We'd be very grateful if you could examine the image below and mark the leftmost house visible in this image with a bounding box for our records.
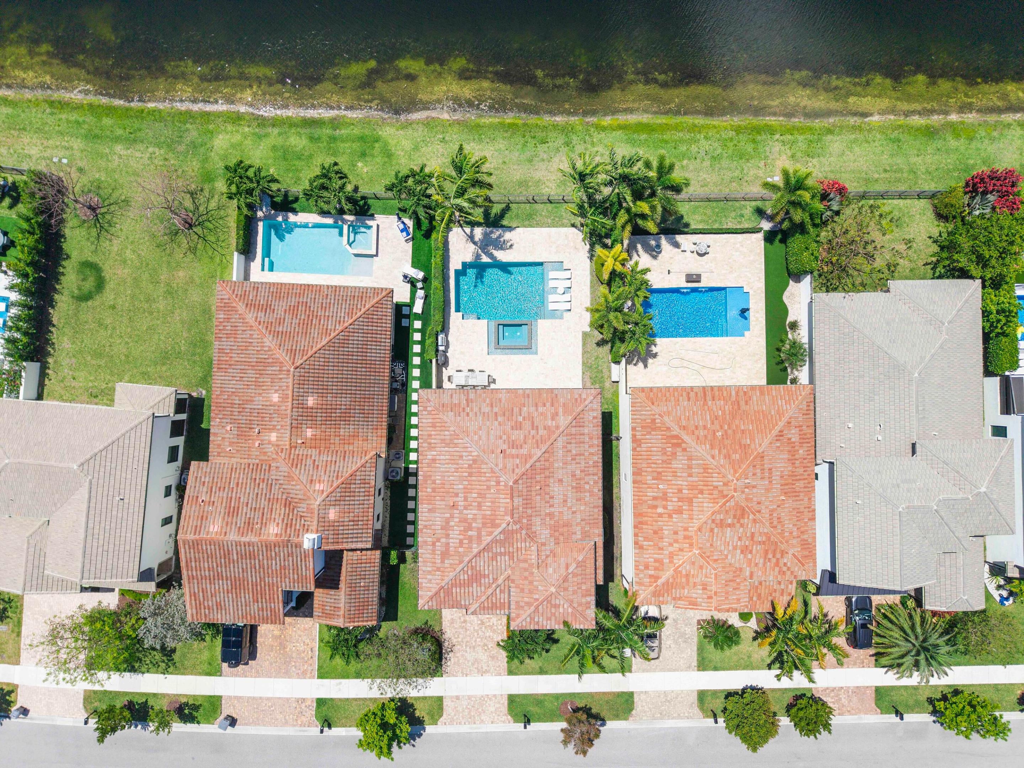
[0,381,191,595]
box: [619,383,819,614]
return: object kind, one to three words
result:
house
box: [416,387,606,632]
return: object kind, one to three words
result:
house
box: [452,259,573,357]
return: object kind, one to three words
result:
swimming pool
